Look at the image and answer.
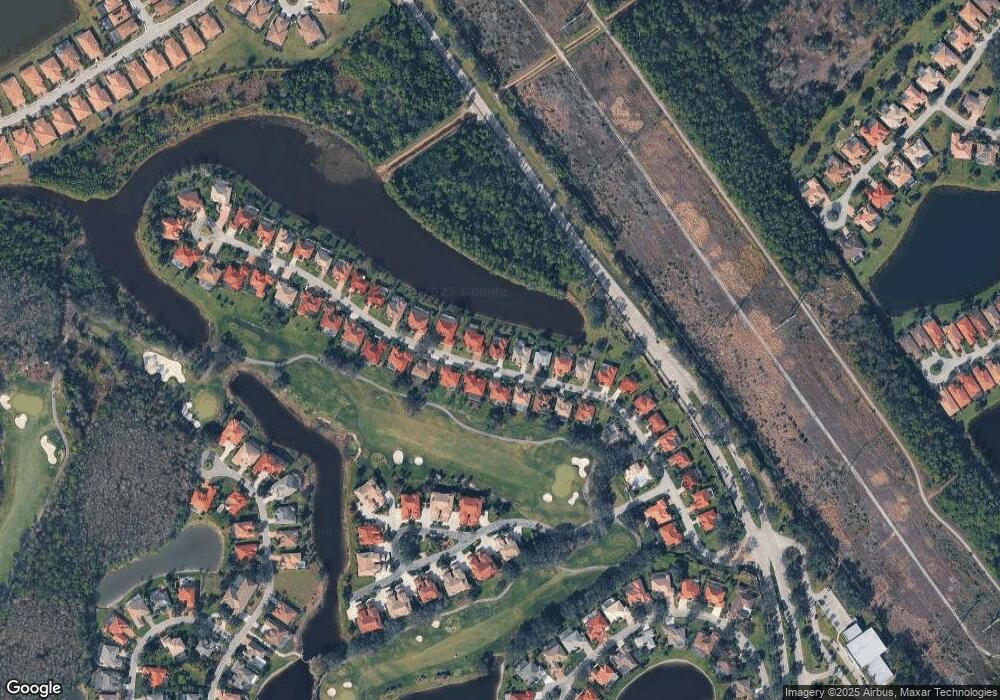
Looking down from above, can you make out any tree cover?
Yes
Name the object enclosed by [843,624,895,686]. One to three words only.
building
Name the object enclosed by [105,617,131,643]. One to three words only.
house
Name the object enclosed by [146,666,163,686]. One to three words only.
house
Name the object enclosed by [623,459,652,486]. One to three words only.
building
